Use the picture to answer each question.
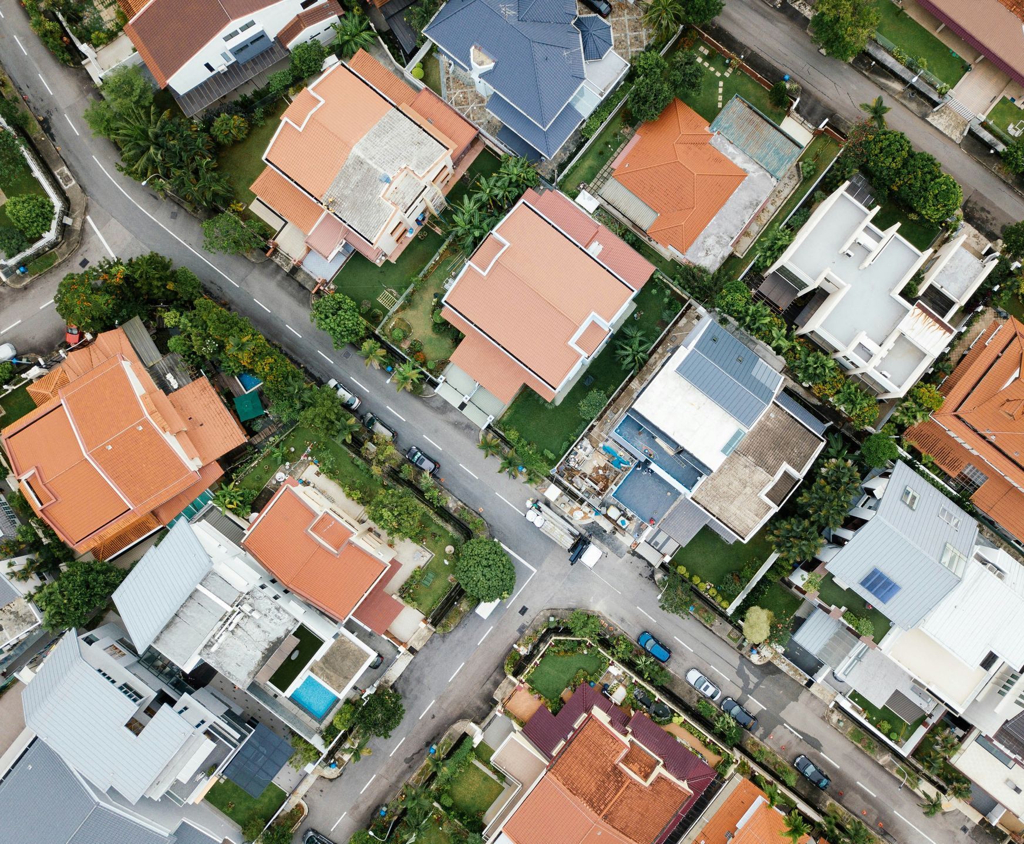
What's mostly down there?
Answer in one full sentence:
The bulk of the photo consists of buildings.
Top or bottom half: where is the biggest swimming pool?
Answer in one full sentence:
Seen from above, the biggest swimming pool lies in the bottom half of the view.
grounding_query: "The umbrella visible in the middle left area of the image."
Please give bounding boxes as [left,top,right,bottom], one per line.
[233,392,265,422]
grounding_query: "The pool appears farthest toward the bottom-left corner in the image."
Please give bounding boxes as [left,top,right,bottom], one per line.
[287,675,344,723]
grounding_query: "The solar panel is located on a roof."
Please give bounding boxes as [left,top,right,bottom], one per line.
[860,567,901,605]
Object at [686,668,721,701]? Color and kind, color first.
white car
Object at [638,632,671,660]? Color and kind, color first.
blue car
